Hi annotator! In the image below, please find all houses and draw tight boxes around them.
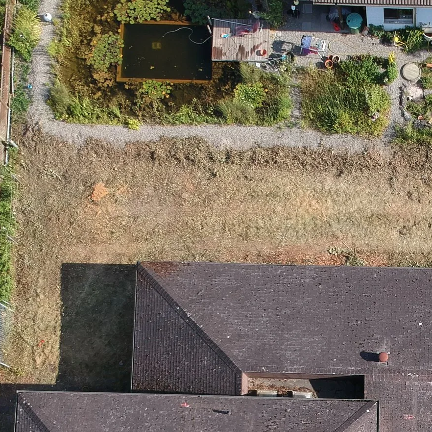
[111,260,432,432]
[310,0,432,30]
